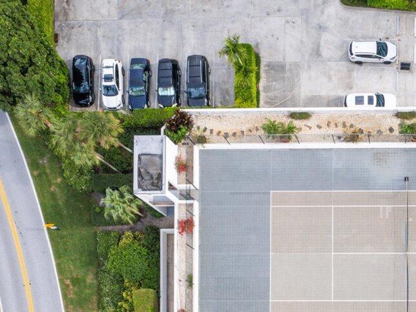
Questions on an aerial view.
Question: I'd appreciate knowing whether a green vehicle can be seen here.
No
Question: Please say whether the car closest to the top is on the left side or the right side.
right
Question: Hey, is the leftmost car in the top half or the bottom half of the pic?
top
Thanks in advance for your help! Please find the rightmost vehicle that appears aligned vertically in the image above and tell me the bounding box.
[183,52,209,108]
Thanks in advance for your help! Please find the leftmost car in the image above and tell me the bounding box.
[67,53,93,107]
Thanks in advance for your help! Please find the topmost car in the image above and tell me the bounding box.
[348,37,397,62]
